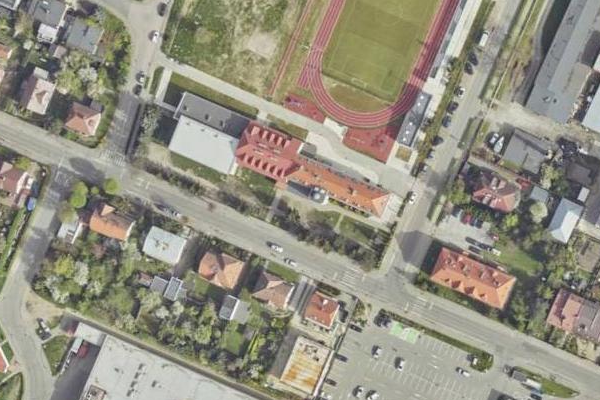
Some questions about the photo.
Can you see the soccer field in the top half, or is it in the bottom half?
top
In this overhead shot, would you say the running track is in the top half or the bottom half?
top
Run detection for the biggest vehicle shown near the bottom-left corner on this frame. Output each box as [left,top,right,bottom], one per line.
[72,338,86,359]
